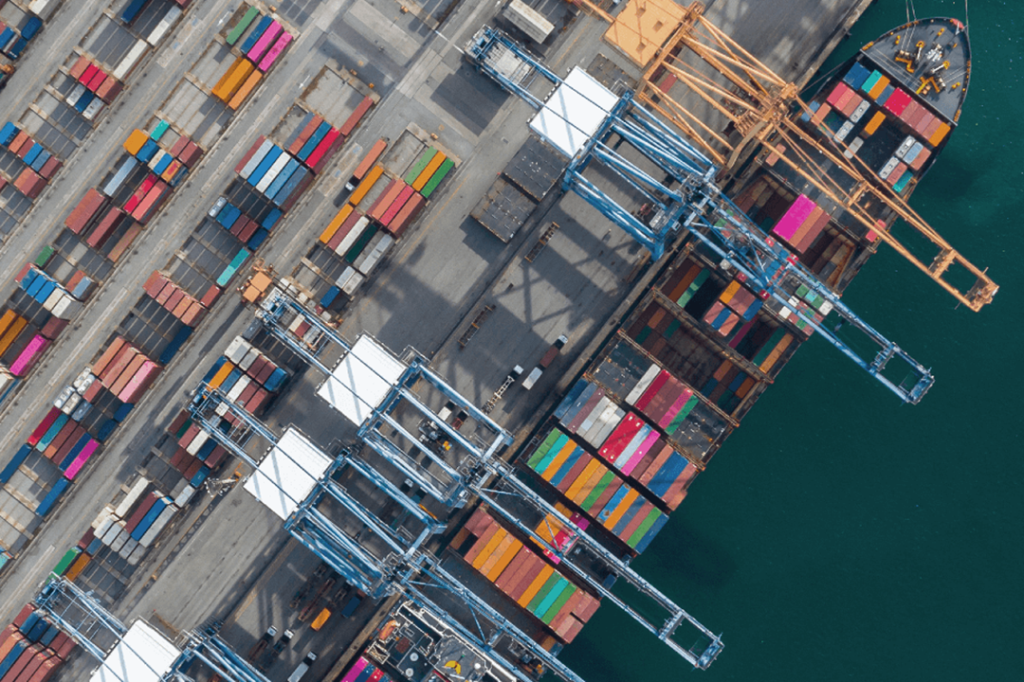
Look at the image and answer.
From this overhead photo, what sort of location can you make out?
port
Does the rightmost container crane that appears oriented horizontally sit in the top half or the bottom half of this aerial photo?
bottom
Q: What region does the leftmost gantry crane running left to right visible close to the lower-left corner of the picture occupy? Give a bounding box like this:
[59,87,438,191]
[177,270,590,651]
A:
[24,560,337,682]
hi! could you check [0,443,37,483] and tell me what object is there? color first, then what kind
blue shipping container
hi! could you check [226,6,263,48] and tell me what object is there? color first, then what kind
green shipping container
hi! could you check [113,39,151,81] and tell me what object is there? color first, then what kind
white shipping container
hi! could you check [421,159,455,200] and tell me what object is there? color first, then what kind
green shipping container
